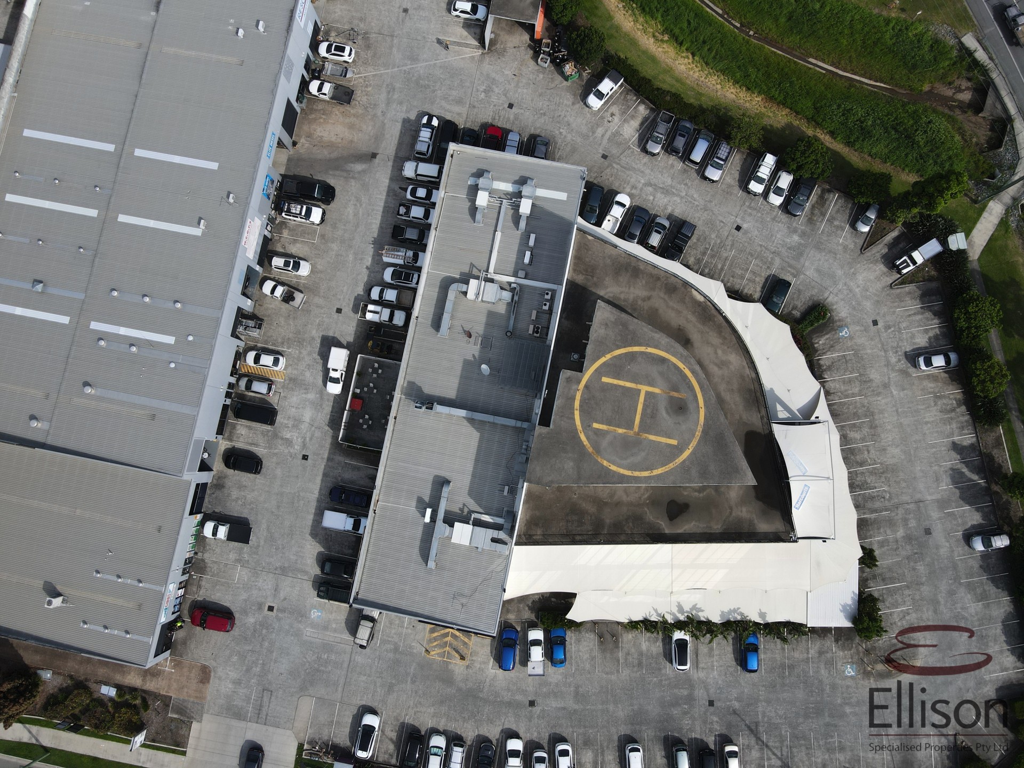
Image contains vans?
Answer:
Yes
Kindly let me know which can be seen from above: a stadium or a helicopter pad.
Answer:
helicopter pad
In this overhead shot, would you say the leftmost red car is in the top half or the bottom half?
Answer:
bottom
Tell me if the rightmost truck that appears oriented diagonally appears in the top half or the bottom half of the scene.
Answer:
top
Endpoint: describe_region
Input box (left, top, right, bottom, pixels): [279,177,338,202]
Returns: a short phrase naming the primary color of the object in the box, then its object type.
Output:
black truck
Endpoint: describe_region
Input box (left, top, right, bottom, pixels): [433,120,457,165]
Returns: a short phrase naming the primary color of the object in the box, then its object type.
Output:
black vehicle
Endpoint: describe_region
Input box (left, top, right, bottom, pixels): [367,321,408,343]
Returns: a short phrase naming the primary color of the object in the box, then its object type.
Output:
black trailer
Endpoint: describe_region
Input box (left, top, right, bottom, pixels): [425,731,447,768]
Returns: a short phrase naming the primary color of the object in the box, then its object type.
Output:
white car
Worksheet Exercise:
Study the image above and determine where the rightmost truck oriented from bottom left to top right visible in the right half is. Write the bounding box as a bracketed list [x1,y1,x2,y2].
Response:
[892,235,947,276]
